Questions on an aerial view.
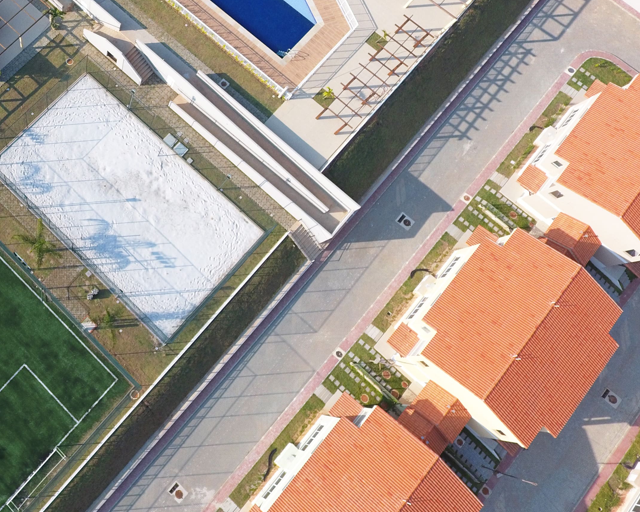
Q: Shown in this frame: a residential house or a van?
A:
residential house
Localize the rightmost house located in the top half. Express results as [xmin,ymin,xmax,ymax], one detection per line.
[495,70,640,286]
